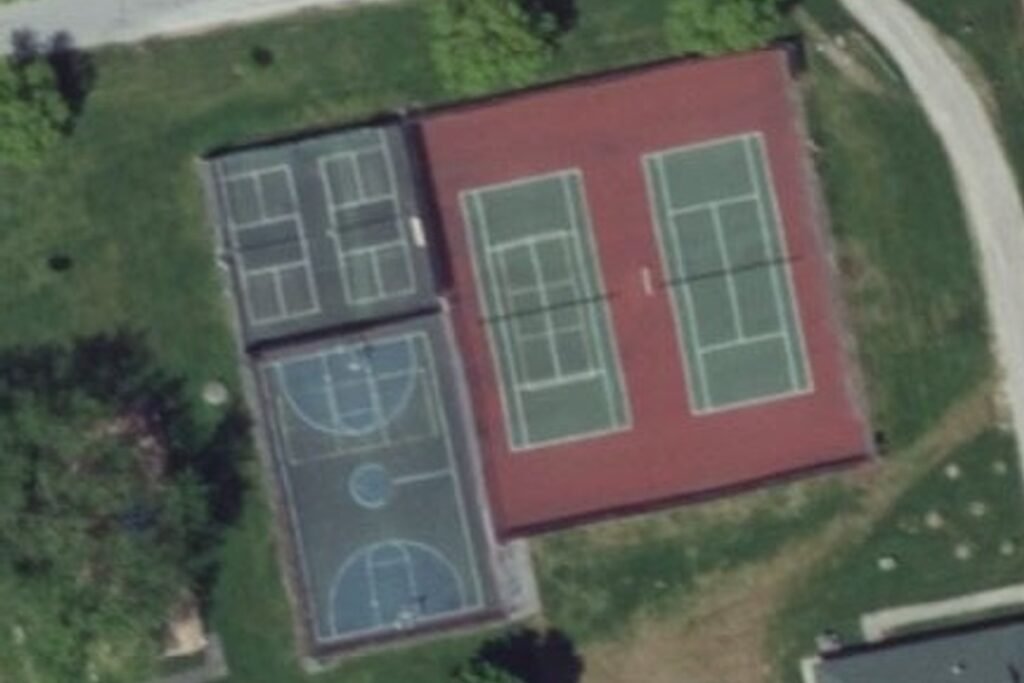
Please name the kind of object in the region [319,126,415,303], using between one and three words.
sports court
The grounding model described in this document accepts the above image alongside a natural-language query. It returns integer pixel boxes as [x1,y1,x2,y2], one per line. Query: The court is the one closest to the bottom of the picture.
[261,333,483,644]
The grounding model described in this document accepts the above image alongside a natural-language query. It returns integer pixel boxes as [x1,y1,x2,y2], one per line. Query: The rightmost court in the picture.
[642,133,814,415]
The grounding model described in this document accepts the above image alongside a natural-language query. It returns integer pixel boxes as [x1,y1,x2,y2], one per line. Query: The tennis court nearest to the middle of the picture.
[459,168,633,452]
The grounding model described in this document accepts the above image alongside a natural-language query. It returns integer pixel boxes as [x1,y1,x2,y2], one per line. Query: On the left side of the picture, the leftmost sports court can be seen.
[219,164,320,324]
